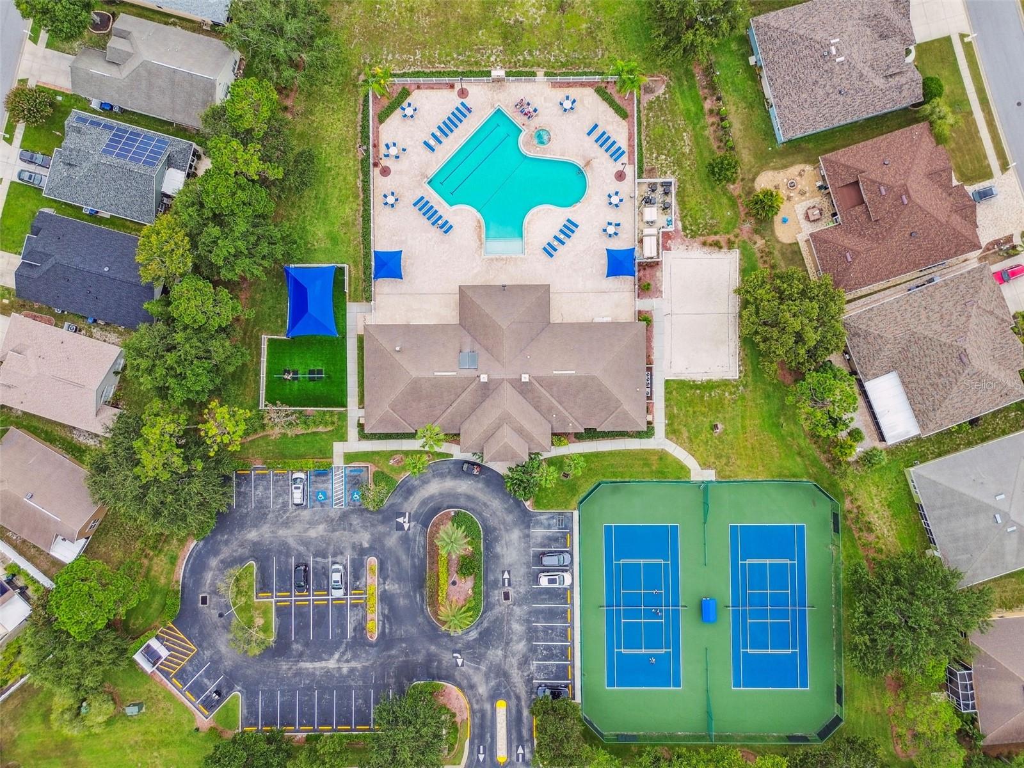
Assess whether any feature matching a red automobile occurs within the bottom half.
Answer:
No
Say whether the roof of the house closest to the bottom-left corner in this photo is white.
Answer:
Yes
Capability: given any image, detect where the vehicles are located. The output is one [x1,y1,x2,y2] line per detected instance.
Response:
[291,563,307,594]
[972,182,1005,203]
[205,686,225,708]
[538,573,571,590]
[288,472,305,507]
[994,264,1024,284]
[537,685,570,701]
[328,564,344,597]
[540,554,570,570]
[12,146,50,168]
[11,168,47,188]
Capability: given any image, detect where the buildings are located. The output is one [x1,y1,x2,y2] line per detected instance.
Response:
[70,13,240,131]
[42,109,195,225]
[364,284,647,463]
[0,426,107,562]
[747,0,924,144]
[838,262,1024,445]
[134,0,238,31]
[902,423,1024,588]
[0,312,127,436]
[15,210,174,329]
[0,564,30,635]
[959,611,1024,746]
[806,123,982,294]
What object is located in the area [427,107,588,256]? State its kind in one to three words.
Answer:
swimming pool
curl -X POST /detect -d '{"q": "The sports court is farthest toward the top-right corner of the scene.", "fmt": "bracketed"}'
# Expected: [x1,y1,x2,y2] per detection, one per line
[663,250,739,379]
